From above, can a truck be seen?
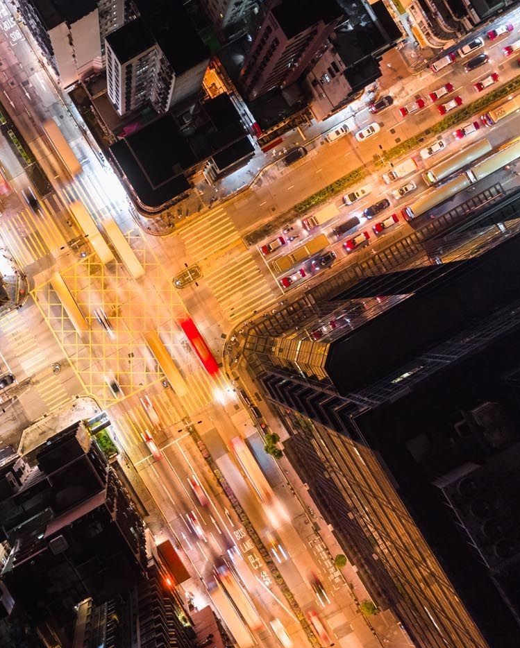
Yes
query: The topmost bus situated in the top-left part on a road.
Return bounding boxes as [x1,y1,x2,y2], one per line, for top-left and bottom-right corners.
[40,114,87,184]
